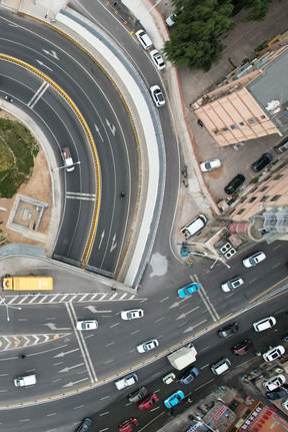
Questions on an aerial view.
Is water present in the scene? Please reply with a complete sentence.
No, the scene doesn't show any water.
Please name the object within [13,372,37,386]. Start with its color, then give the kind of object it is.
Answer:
white vehicle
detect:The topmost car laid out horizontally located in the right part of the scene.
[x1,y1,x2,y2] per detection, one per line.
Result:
[197,158,221,171]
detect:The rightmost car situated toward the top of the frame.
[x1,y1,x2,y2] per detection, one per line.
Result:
[273,138,288,155]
